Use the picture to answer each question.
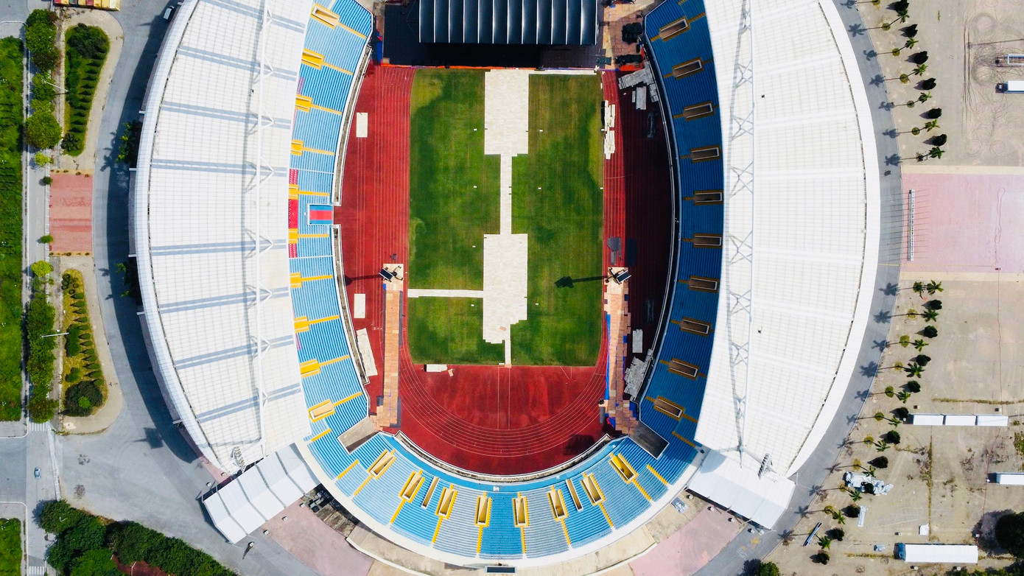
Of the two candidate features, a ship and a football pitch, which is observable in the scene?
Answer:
football pitch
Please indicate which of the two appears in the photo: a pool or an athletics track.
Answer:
athletics track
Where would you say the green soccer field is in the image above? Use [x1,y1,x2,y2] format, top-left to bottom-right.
[409,67,604,367]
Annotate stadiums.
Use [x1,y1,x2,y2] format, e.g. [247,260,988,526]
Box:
[128,0,877,576]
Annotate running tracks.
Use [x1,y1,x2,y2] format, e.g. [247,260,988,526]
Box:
[333,17,672,470]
